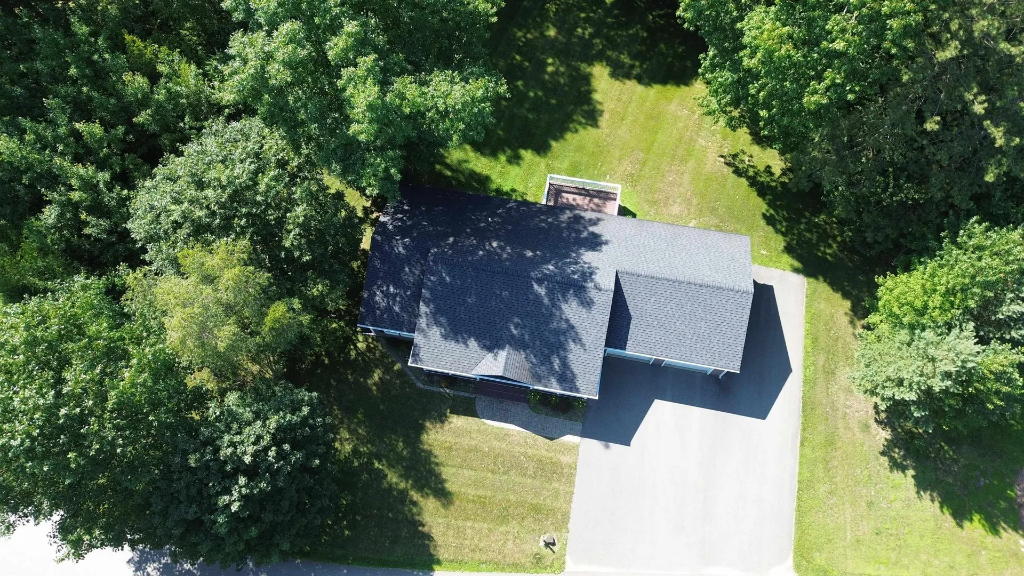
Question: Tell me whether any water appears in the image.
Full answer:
No, the picture contains no water.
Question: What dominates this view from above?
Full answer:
Most of the picture is covered by trees.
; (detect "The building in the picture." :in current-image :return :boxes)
[358,182,754,403]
